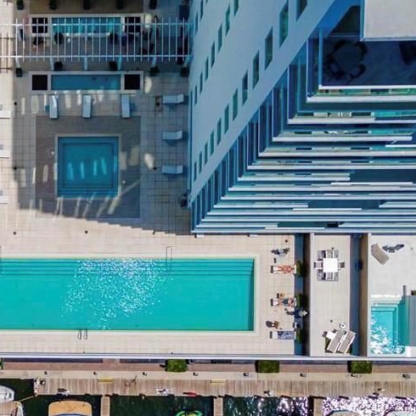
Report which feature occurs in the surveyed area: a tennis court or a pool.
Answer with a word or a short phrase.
pool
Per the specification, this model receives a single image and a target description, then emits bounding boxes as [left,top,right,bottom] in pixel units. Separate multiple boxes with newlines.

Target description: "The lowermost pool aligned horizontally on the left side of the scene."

[0,254,259,336]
